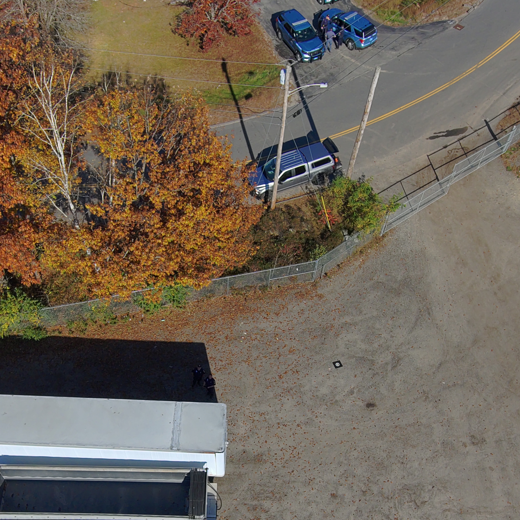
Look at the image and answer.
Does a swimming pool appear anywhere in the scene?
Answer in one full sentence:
No, the frame has no swimming pool in it.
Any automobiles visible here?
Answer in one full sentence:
Yes, the photo shows an automobile.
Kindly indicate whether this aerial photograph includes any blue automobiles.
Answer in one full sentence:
Yes, the image includes a blue automobile.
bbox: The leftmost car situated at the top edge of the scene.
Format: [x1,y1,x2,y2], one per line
[274,9,326,64]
